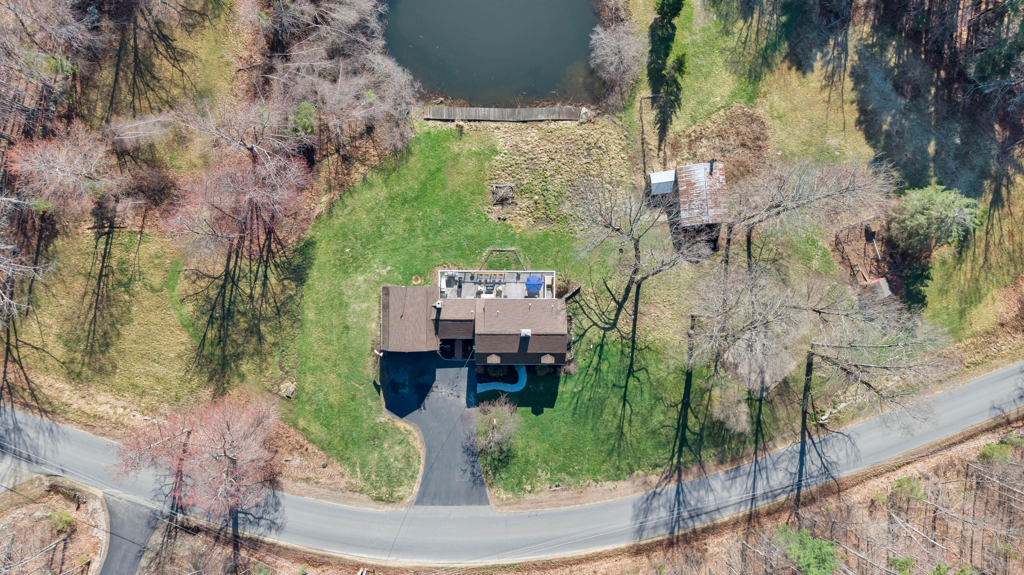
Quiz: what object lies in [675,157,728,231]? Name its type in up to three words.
barn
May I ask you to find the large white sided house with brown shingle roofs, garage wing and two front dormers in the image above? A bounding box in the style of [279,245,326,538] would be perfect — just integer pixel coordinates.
[382,286,568,366]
